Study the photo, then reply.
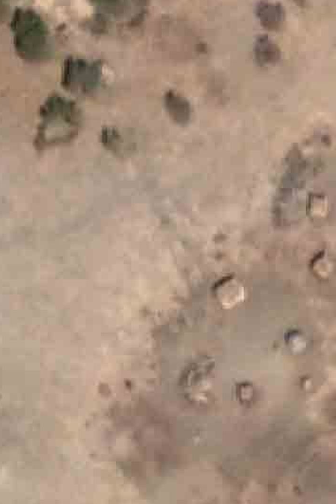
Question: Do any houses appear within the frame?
Yes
